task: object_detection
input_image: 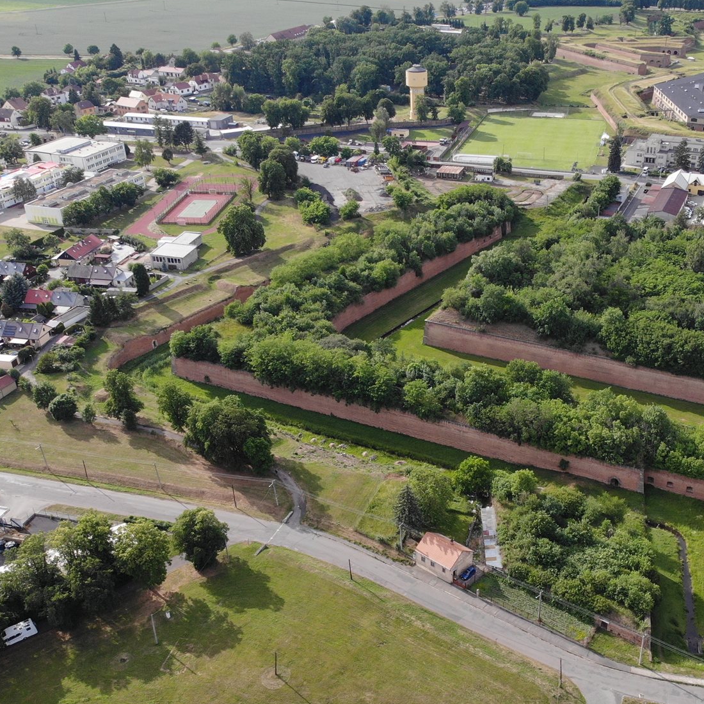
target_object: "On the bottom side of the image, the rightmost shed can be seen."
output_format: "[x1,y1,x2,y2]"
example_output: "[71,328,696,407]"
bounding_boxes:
[481,507,503,579]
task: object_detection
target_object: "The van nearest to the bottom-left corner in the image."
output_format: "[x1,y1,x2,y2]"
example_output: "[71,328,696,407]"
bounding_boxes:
[1,618,43,646]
